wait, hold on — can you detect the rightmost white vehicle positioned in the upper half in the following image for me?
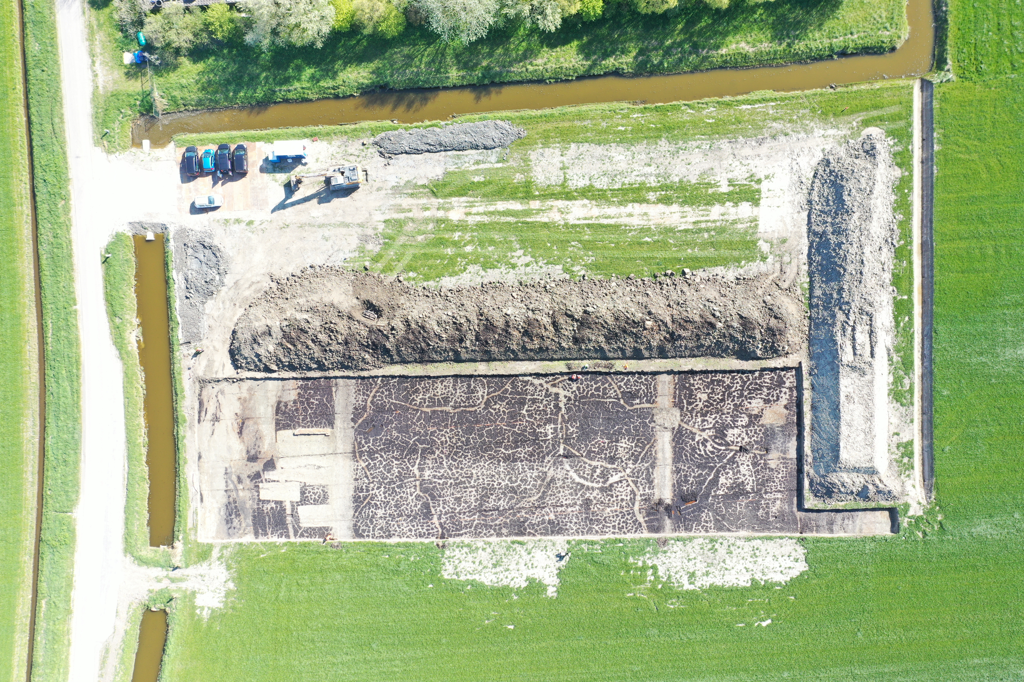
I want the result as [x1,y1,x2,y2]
[291,163,366,190]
